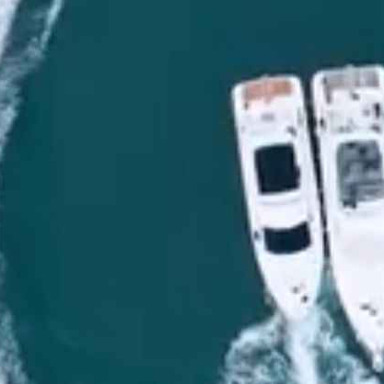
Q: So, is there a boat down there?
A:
Yes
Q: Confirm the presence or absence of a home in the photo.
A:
No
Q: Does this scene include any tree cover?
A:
No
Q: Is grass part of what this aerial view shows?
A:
No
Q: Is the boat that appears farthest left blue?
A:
No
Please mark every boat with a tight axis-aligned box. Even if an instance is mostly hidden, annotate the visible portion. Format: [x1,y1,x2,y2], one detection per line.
[313,65,384,370]
[234,75,323,325]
